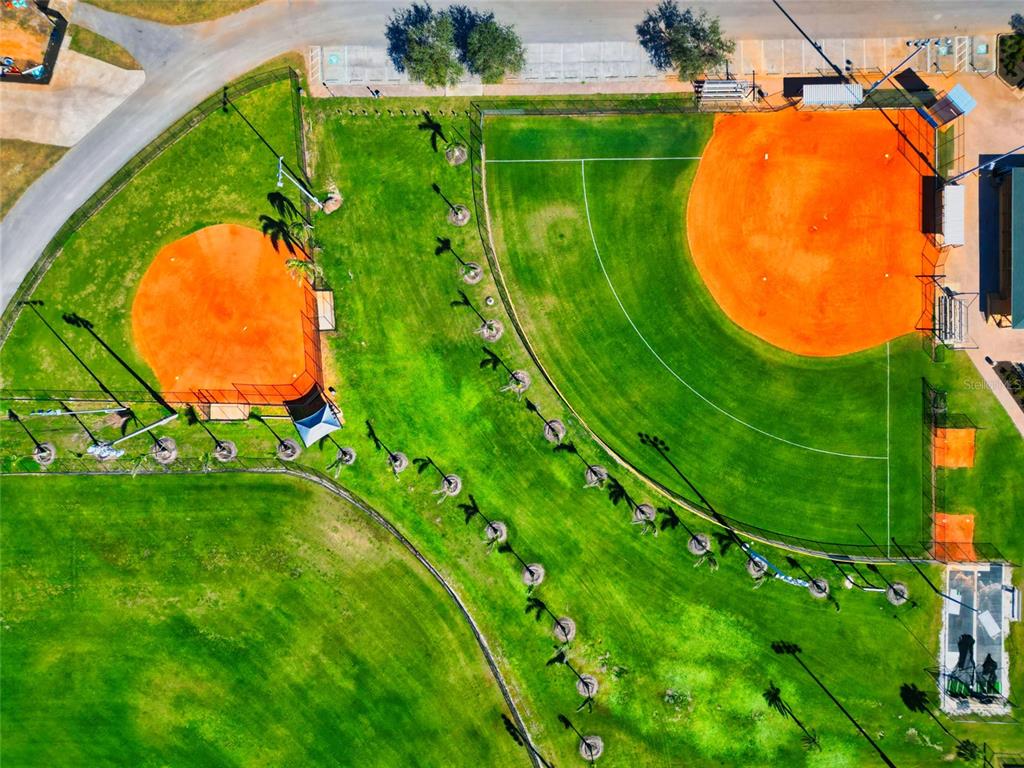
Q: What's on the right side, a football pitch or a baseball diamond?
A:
baseball diamond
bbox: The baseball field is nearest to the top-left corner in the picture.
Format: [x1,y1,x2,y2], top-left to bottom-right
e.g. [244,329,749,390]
[0,78,323,404]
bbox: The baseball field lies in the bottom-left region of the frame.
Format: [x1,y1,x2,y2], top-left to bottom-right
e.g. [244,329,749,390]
[0,472,537,768]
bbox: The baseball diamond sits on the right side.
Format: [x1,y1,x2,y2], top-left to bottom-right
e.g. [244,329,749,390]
[485,110,936,560]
